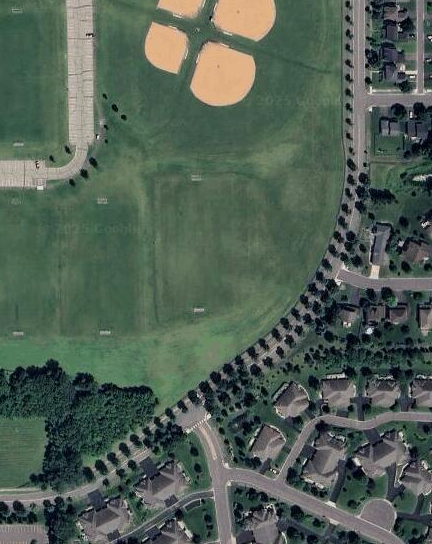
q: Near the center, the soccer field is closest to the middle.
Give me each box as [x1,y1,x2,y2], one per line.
[156,181,244,313]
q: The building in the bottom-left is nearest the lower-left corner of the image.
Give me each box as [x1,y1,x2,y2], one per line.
[80,499,131,544]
